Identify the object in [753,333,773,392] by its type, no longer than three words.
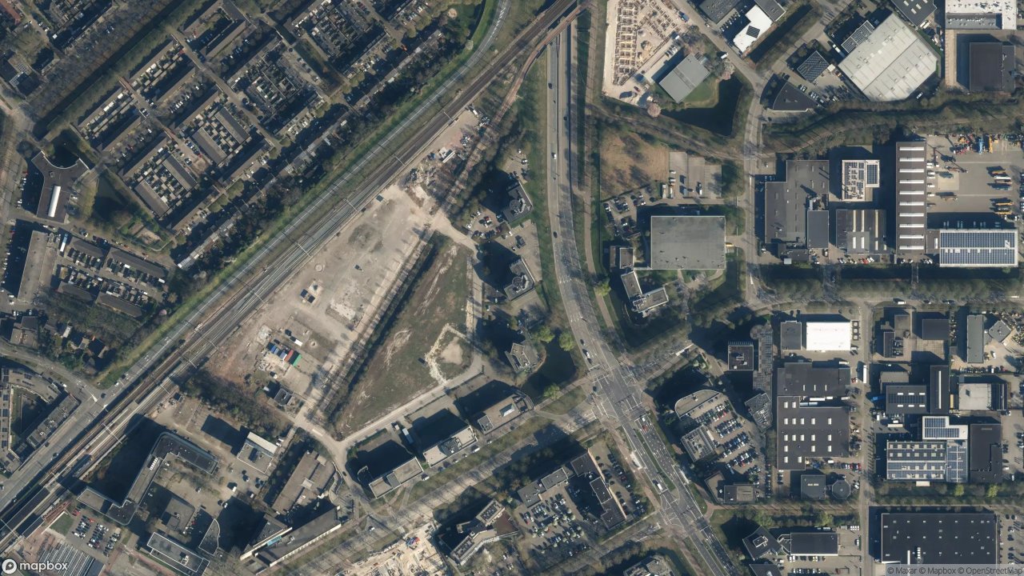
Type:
greenhouse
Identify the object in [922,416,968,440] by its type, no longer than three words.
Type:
building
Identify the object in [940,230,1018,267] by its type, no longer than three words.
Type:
building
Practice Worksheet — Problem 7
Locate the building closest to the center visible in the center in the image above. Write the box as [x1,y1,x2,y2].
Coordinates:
[505,258,536,302]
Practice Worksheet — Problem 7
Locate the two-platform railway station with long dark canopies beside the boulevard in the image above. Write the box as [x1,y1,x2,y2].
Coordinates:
[0,372,174,557]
